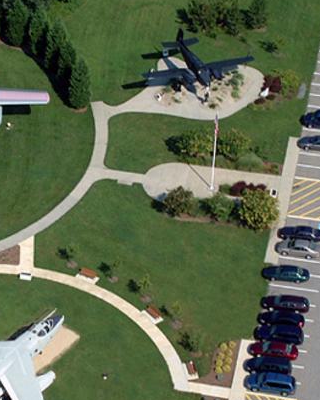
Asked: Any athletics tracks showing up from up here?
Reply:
No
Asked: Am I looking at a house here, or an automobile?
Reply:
automobile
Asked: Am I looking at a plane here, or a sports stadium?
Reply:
plane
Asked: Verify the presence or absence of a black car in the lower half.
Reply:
Yes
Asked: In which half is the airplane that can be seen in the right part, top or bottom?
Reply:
top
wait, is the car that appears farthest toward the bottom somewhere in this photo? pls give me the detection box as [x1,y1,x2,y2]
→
[245,372,296,398]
